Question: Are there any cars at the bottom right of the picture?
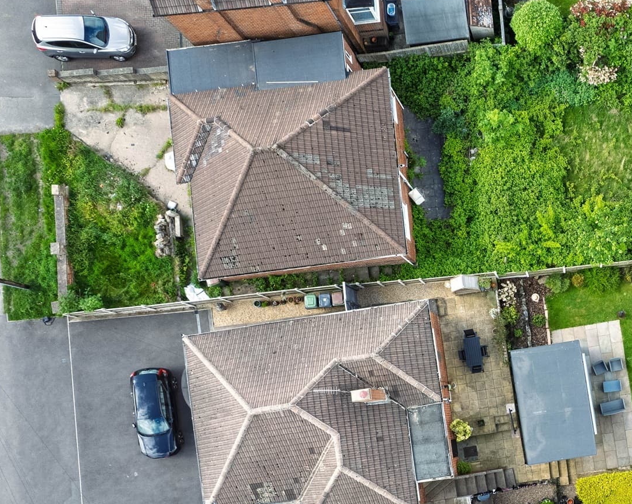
No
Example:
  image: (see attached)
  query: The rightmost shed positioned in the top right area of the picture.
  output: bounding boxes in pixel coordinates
[470,0,498,44]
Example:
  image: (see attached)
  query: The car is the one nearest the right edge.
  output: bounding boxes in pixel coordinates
[133,369,184,456]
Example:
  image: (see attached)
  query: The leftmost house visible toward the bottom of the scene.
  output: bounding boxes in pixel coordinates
[180,298,464,504]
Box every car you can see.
[38,17,134,66]
[133,369,184,456]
